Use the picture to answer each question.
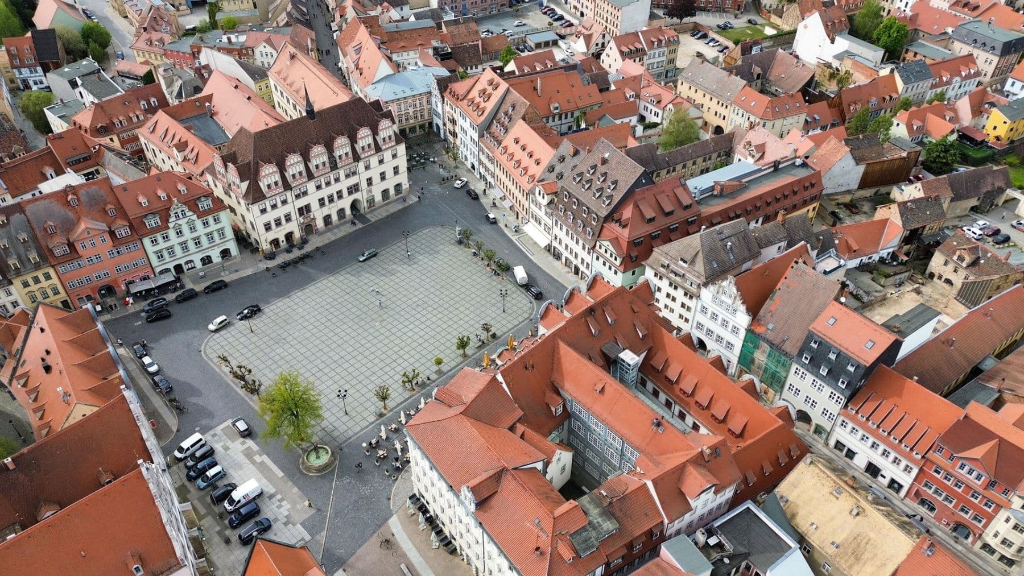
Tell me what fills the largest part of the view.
buildings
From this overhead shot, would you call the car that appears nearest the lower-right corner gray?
Yes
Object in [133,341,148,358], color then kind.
gray car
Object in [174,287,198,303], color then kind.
black car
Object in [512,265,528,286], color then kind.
white car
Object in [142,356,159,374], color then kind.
white car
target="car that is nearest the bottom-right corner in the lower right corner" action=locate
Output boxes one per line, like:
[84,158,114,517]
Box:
[901,510,936,534]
